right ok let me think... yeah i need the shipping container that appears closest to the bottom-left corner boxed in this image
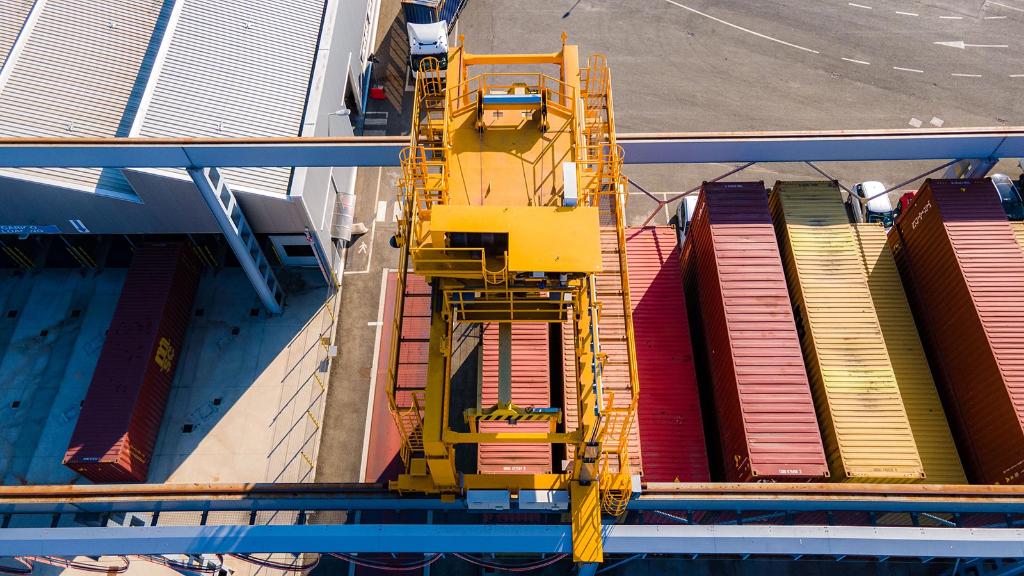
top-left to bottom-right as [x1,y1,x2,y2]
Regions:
[64,241,206,479]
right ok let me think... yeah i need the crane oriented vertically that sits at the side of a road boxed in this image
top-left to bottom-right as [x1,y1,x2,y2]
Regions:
[380,31,643,562]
